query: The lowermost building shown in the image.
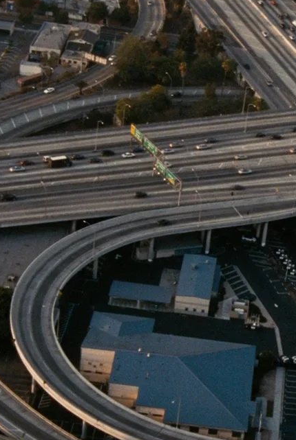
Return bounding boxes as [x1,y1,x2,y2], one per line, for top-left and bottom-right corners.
[81,312,263,440]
